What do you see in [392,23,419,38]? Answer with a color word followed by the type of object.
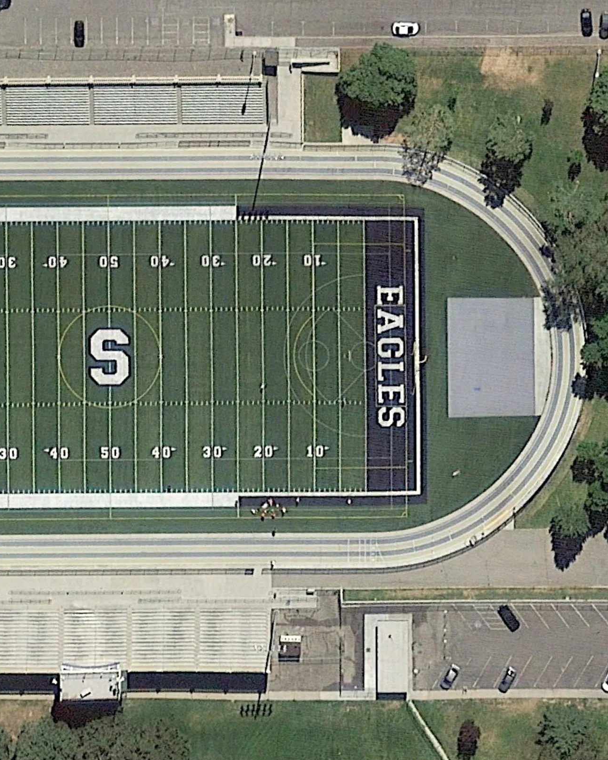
white car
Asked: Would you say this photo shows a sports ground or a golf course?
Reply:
sports ground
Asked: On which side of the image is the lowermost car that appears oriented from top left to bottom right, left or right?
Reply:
right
